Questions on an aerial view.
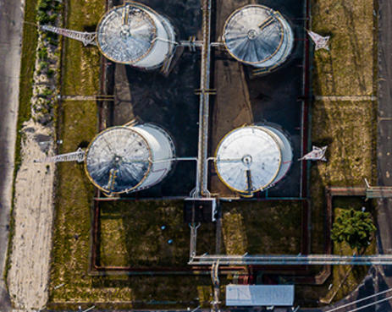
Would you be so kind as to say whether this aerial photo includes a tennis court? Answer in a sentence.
No, no tennis court can be seen from above.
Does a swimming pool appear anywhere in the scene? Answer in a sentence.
No, there isn't any swimming pool down there.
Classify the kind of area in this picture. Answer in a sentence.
This looks like an industrial area.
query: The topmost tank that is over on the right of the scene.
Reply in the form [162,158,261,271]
[221,4,296,69]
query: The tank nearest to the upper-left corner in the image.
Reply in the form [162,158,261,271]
[93,0,177,72]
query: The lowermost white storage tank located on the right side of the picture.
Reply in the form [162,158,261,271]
[213,122,293,198]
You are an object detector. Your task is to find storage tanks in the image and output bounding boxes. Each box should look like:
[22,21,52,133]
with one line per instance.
[221,4,296,69]
[82,124,175,199]
[213,122,293,198]
[93,0,177,72]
